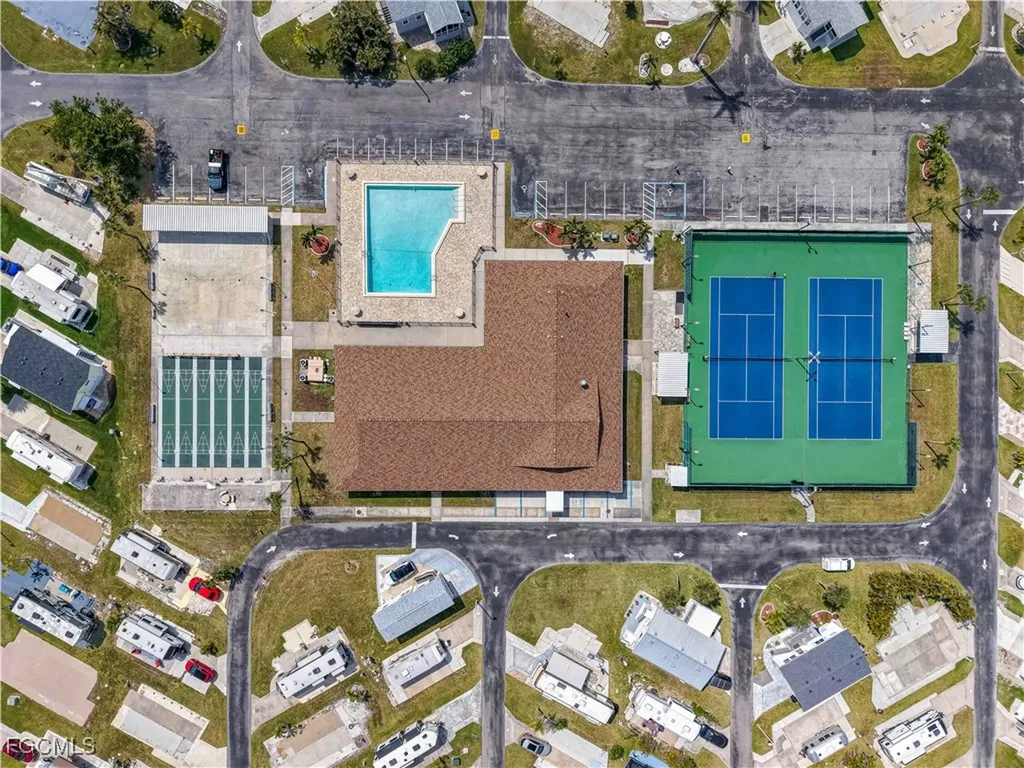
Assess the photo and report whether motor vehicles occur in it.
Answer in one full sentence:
Yes, there's a motor vehicle here.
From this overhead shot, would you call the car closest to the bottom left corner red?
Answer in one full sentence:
Yes, the car closest to the bottom left corner is red.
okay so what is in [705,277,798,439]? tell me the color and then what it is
blue tennis court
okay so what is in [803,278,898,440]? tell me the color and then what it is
blue tennis court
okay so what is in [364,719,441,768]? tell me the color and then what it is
white camper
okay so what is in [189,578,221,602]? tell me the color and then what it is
red car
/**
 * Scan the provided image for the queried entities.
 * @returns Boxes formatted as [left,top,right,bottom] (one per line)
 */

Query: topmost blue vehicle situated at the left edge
[0,254,27,277]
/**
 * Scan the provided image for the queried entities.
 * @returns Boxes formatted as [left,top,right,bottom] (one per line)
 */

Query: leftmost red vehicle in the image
[3,738,38,763]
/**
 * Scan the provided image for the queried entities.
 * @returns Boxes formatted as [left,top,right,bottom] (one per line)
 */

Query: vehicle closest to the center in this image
[386,559,419,585]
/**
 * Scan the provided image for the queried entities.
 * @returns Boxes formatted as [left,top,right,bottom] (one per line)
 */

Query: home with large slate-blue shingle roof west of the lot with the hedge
[770,615,872,711]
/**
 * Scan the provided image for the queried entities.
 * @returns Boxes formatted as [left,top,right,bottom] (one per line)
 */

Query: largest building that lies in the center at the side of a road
[334,262,623,491]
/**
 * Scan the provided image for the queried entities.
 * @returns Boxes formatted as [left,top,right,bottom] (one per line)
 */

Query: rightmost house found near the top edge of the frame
[815,0,869,46]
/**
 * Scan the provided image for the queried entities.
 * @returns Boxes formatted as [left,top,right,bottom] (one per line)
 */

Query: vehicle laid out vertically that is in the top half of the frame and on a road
[207,150,225,192]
